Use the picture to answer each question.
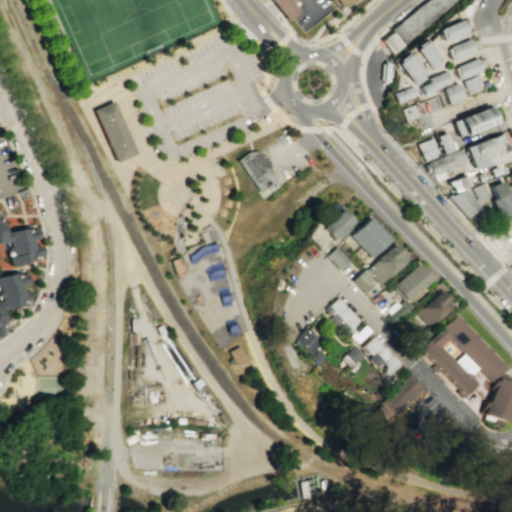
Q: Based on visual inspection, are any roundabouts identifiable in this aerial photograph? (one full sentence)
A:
Yes, you can see a roundabout in this photo.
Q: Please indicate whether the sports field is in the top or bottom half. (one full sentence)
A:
It is in the top half that the sports field appears.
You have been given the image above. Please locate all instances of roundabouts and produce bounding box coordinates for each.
[270,43,356,127]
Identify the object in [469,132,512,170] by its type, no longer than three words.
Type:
building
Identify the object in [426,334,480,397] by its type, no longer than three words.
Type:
building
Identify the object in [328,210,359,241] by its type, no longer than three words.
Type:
house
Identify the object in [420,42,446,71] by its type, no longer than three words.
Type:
house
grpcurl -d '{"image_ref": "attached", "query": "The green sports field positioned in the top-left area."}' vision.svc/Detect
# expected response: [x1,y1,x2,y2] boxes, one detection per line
[52,0,224,83]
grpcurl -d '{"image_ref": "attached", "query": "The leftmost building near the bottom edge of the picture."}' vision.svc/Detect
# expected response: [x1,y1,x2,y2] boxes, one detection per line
[296,474,330,500]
